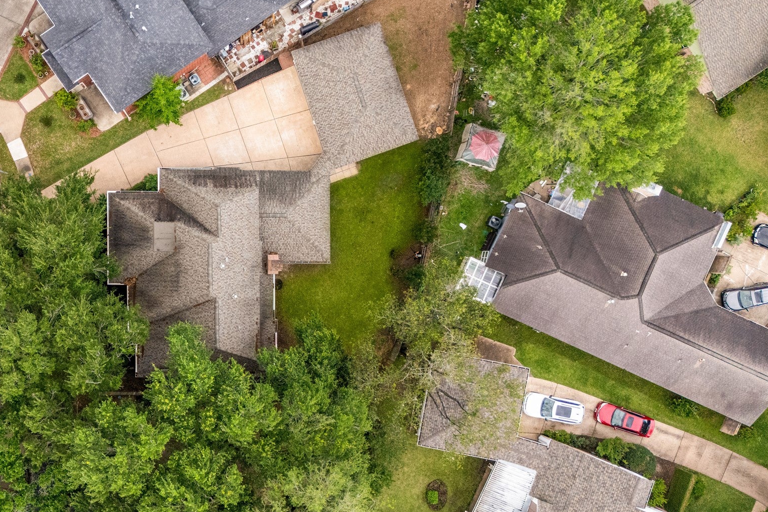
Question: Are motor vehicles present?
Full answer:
Yes, there's a motor vehicle down there.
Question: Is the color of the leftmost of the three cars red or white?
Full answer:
From above, the leftmost of the three cars appears white.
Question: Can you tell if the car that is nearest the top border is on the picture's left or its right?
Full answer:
It is on the right.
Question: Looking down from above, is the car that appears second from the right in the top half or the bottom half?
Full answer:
You can find the car that appears second from the right in the bottom half.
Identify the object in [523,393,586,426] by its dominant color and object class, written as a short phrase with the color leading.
white car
